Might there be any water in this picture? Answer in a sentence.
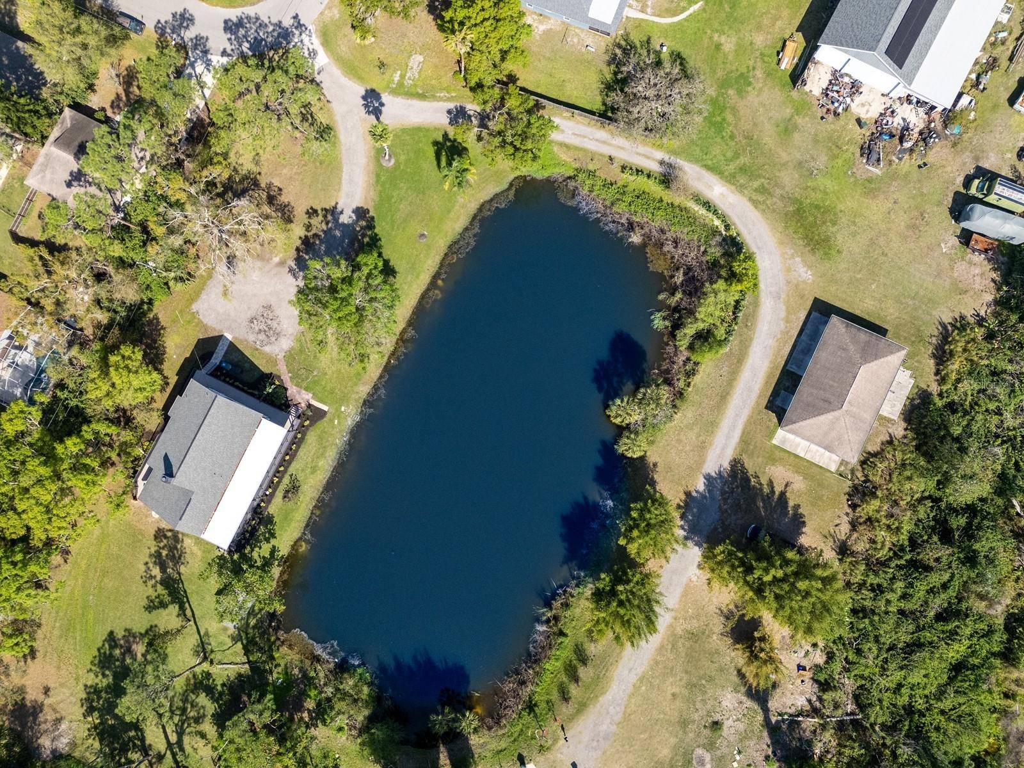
Yes, water shows up in the scene.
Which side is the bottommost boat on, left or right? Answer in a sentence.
It is on the right.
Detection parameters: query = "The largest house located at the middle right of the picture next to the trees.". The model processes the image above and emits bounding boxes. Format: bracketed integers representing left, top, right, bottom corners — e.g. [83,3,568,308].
[772,311,914,472]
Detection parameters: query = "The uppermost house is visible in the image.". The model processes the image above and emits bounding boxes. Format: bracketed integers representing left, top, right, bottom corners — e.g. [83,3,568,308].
[520,0,631,47]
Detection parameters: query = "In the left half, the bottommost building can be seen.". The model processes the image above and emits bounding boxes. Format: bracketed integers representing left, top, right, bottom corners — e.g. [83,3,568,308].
[134,369,313,552]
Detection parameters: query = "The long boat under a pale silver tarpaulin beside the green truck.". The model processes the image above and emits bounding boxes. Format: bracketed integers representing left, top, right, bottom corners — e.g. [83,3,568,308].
[949,206,1024,251]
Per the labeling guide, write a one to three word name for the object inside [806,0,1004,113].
barn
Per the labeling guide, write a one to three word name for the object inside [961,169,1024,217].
truck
